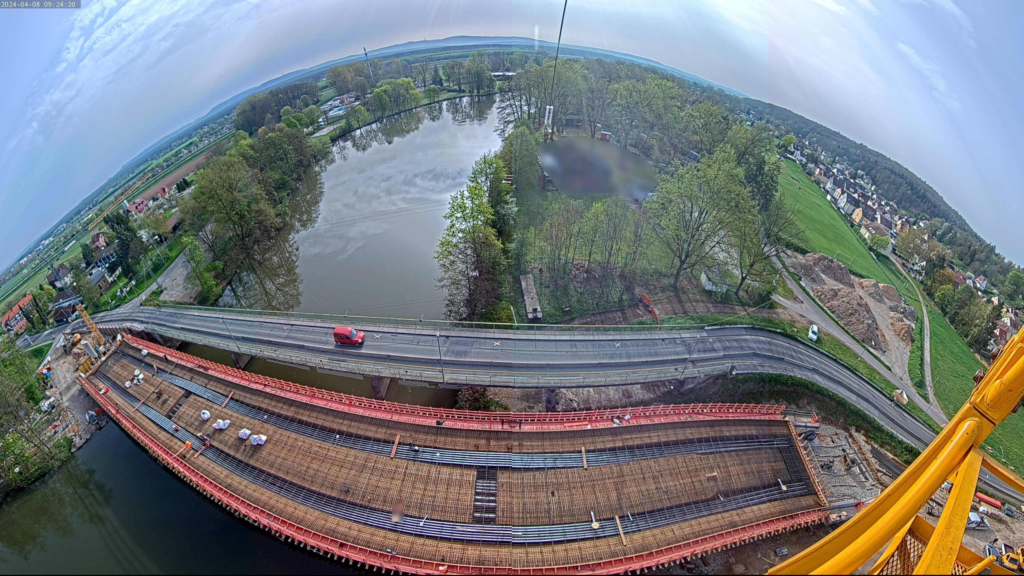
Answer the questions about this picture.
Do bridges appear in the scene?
Yes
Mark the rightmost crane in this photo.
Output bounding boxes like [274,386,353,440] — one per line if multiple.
[754,325,1024,576]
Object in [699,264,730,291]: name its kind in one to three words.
shed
